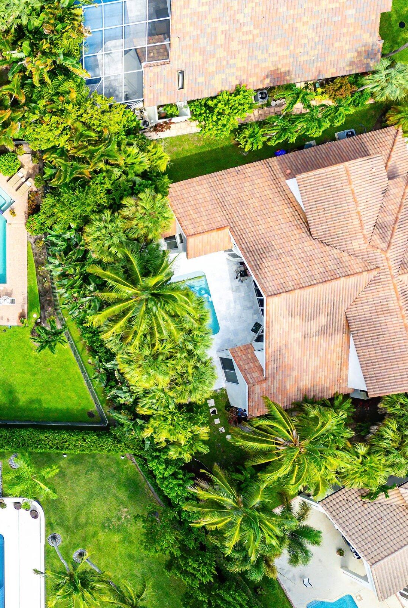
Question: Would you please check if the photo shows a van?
No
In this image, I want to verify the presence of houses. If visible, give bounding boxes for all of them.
[159,128,408,416]
[131,0,394,108]
[302,466,408,601]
